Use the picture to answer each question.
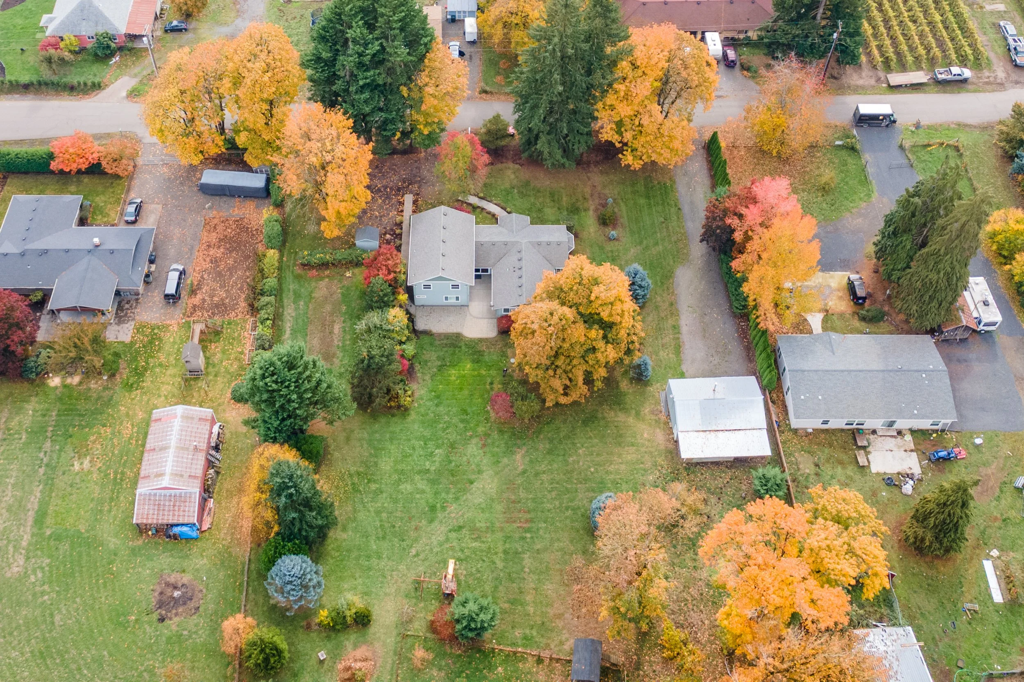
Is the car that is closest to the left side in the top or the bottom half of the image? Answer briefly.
top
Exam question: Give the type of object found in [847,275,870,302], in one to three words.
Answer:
car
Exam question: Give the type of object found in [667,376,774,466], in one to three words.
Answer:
building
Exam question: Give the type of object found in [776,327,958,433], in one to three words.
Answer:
house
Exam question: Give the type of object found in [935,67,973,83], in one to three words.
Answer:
vehicle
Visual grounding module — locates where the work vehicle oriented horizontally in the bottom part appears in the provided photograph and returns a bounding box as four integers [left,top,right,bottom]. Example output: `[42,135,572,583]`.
[926,445,969,468]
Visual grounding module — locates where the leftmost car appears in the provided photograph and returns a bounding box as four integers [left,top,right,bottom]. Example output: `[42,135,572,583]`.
[122,196,142,221]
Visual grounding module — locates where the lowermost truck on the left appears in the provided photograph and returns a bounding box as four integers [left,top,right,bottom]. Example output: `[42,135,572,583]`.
[163,264,187,300]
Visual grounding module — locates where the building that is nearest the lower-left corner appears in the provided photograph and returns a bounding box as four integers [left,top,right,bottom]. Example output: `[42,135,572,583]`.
[131,404,215,533]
